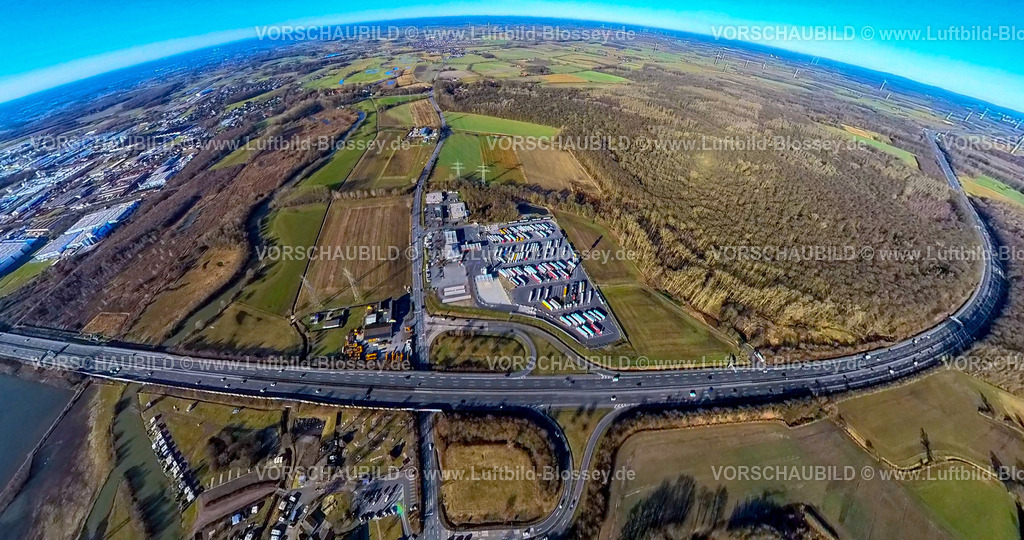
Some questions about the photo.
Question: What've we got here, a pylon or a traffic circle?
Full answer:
This aerial view contains a pylon.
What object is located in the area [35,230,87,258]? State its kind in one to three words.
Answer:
building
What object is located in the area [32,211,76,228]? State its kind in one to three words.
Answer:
building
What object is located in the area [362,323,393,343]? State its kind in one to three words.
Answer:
barn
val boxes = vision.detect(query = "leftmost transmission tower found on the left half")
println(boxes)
[301,273,322,307]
